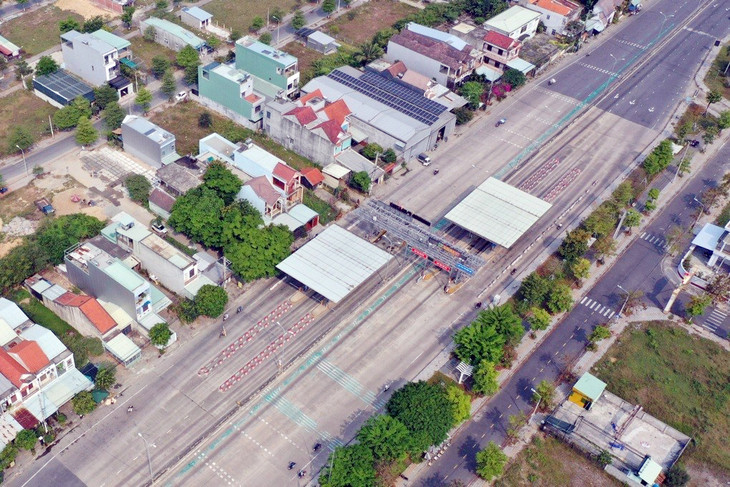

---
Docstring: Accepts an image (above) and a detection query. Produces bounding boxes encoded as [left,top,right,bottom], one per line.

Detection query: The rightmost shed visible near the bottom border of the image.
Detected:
[632,456,664,487]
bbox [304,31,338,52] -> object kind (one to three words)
shed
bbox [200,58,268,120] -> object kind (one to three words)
house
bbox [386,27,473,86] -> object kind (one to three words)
house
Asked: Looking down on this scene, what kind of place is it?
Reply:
residential area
